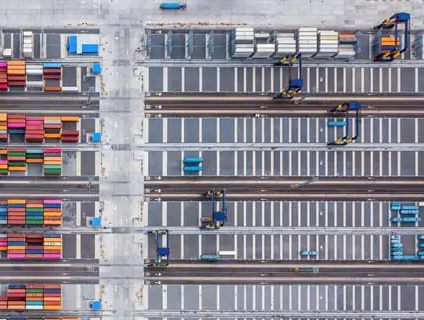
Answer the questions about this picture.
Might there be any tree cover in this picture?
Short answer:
No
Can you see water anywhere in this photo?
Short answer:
No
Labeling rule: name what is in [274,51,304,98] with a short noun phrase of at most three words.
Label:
container crane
